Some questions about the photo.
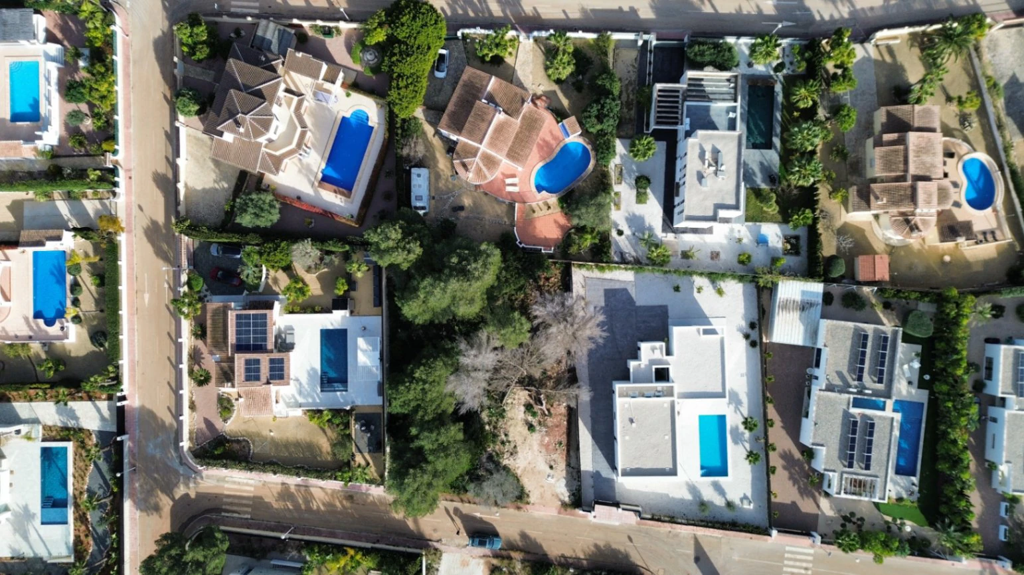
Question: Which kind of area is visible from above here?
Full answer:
What you see here is a residential area.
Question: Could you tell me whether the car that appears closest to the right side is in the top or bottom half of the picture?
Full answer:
You can find the car that appears closest to the right side in the bottom half.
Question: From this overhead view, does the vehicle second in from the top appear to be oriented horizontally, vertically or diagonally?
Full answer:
Seen from above, the vehicle second in from the top lies vertically.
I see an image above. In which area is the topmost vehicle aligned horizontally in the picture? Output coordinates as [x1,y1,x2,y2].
[210,242,243,259]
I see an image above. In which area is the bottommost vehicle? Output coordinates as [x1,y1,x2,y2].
[467,532,502,552]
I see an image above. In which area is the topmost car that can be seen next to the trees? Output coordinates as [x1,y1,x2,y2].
[433,47,449,79]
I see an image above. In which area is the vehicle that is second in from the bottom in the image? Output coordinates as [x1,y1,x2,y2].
[210,266,242,287]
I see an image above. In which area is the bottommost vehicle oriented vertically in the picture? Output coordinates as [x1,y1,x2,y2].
[409,165,429,213]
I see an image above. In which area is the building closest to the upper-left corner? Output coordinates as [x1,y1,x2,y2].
[0,9,61,51]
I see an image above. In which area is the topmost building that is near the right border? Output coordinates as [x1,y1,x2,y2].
[841,105,975,244]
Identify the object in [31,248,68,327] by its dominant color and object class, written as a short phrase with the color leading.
blue swimming pool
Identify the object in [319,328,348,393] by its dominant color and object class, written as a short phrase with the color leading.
blue swimming pool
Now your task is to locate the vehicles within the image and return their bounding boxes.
[210,242,243,259]
[433,47,449,79]
[409,165,429,213]
[467,532,502,552]
[210,266,242,287]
